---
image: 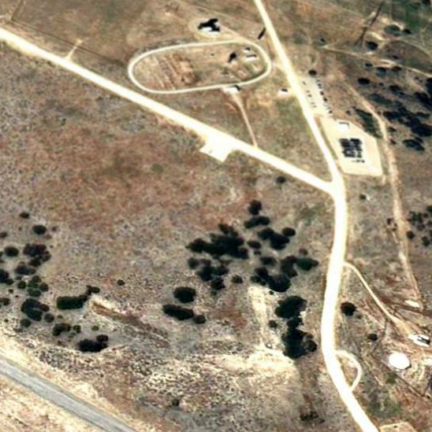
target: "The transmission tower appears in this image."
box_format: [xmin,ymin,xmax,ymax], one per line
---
[359,9,381,48]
